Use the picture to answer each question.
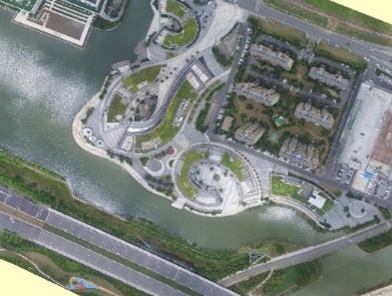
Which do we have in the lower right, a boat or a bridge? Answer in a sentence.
You can see a bridge in the lower right.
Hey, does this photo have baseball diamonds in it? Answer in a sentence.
No, the frame has no baseball diamond in it.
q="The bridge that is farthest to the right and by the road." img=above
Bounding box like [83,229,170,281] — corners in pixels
[296,230,365,262]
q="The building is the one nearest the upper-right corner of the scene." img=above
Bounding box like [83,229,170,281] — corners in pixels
[310,67,350,91]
